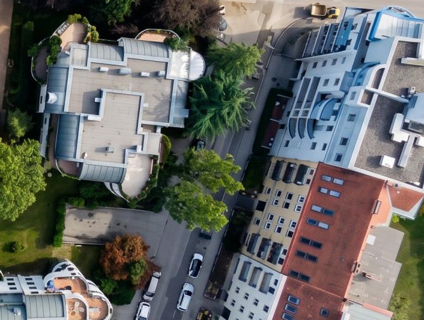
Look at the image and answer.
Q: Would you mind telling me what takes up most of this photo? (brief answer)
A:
buildings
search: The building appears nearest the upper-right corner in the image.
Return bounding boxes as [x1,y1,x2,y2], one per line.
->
[270,6,424,194]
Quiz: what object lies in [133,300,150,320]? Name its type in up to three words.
car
